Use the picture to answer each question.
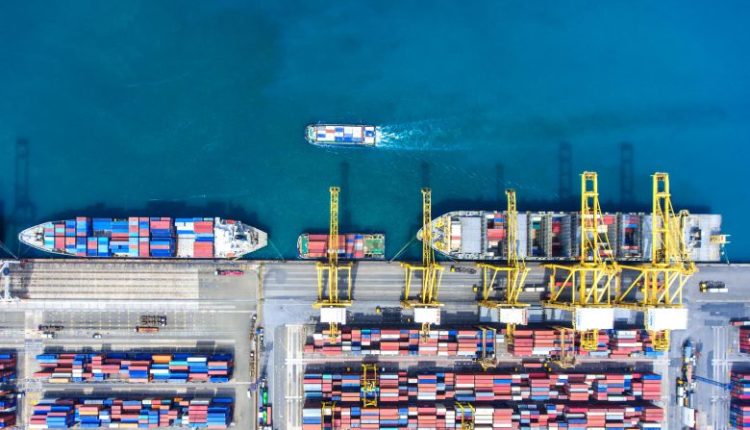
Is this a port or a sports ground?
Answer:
port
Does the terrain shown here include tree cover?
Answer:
No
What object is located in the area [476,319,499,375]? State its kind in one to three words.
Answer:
container crane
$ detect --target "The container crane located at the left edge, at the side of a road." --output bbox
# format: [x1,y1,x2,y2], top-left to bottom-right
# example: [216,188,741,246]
[0,262,32,306]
